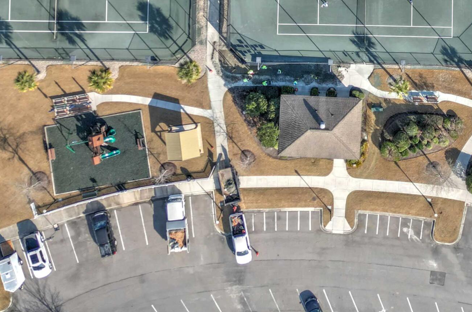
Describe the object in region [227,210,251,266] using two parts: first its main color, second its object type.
white truck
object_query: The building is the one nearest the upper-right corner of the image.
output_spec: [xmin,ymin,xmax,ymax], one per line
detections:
[277,95,362,160]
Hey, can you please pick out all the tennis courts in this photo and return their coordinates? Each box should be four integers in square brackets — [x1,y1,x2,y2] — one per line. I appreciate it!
[0,0,195,64]
[229,0,472,67]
